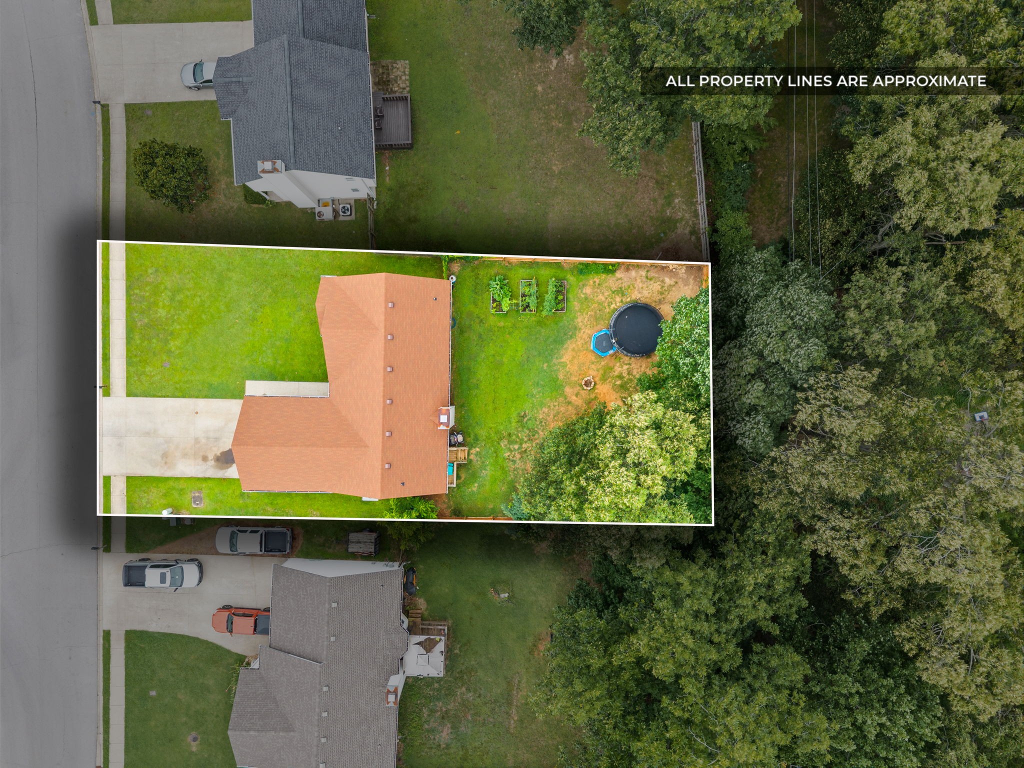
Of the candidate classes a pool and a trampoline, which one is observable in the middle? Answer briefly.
trampoline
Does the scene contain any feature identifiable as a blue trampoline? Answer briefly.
Yes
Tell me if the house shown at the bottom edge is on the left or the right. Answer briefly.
left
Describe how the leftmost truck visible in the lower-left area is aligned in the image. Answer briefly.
horizontally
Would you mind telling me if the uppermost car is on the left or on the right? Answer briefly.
left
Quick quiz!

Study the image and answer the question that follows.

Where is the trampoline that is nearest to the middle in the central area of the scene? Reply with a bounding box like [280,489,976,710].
[590,328,617,358]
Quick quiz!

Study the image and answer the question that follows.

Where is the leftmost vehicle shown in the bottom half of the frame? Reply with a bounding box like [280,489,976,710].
[124,559,207,595]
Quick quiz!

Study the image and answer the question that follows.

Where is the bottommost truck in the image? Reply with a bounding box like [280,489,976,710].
[212,603,269,639]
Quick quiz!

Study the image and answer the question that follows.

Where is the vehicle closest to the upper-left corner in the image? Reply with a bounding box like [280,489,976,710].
[181,59,216,92]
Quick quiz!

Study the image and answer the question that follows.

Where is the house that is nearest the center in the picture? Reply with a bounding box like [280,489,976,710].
[230,273,457,500]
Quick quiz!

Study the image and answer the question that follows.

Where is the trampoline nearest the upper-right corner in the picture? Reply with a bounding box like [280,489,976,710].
[607,300,664,361]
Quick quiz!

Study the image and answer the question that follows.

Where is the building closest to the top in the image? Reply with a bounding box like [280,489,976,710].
[212,0,384,207]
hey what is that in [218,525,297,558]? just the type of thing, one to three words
truck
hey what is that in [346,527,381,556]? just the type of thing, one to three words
trailer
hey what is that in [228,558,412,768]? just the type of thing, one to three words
house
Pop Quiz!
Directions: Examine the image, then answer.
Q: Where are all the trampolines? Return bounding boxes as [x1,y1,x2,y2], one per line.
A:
[590,328,617,358]
[607,300,664,361]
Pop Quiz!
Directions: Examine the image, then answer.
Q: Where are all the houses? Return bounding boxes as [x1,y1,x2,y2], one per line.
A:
[228,558,412,768]
[230,273,457,500]
[212,0,384,207]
